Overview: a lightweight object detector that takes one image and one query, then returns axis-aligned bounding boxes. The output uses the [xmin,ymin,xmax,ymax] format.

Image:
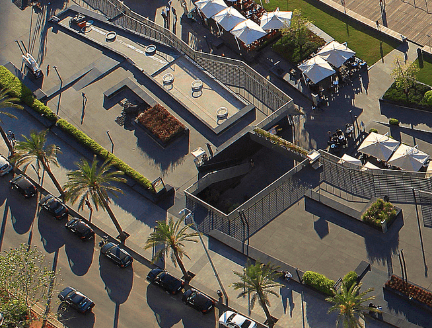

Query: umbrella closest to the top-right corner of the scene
[317,39,353,65]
